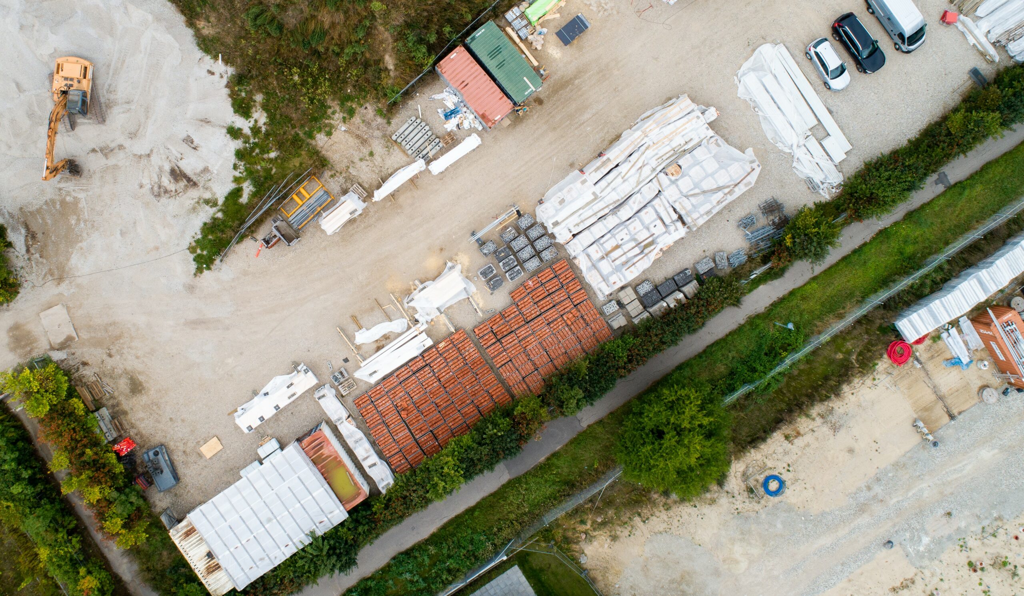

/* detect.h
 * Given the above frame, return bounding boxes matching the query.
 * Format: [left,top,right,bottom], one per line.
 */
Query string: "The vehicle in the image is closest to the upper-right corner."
[868,0,932,58]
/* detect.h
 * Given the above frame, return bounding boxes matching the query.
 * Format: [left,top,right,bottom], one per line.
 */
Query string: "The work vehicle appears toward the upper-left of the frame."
[37,65,103,191]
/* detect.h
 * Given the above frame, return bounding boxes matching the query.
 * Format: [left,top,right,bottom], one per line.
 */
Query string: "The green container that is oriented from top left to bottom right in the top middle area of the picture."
[465,19,543,106]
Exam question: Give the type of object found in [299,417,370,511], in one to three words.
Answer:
shipping container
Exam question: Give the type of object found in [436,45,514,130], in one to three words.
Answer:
shipping container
